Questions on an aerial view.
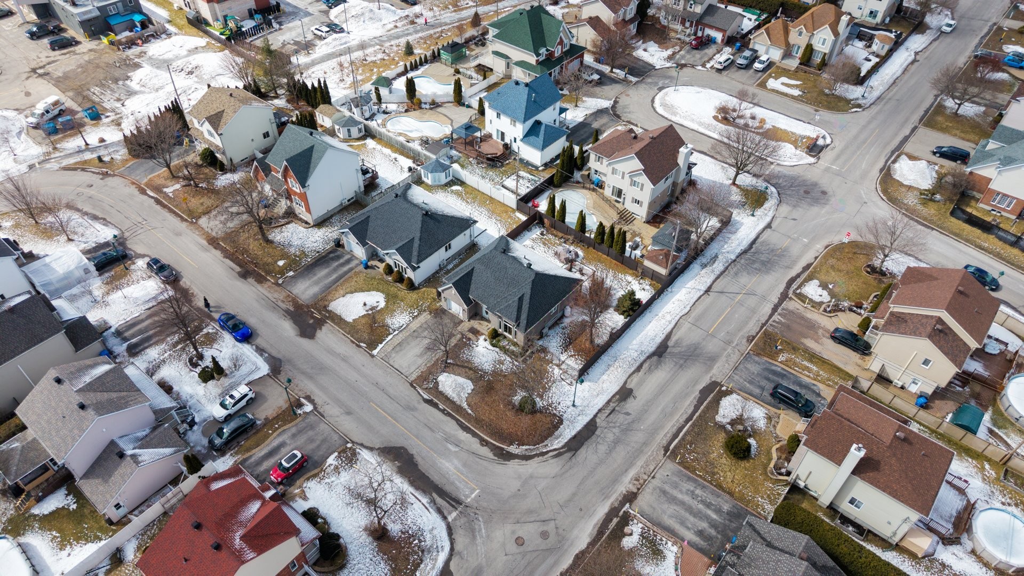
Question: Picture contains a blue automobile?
Yes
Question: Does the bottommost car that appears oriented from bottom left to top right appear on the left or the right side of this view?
left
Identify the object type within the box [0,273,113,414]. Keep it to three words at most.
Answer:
house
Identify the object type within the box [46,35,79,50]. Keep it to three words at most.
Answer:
vehicle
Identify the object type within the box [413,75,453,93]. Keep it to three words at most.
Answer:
swimming pool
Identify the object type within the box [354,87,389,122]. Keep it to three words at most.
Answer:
shed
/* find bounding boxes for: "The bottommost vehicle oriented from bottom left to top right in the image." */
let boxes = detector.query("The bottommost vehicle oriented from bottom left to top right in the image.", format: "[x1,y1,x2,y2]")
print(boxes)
[267,448,312,485]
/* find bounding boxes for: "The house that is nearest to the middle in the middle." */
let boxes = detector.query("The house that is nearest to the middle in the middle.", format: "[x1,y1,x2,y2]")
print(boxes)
[438,236,584,352]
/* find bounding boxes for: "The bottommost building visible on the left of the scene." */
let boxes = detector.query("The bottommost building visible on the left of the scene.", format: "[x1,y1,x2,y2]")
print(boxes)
[112,463,330,576]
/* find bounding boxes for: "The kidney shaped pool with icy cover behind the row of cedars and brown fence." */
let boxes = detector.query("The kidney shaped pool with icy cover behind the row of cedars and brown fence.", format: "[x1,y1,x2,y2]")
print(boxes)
[551,187,598,231]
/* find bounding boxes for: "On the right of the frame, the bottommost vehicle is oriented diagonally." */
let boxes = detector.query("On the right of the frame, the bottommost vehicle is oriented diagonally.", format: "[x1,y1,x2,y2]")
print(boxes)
[768,381,818,419]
